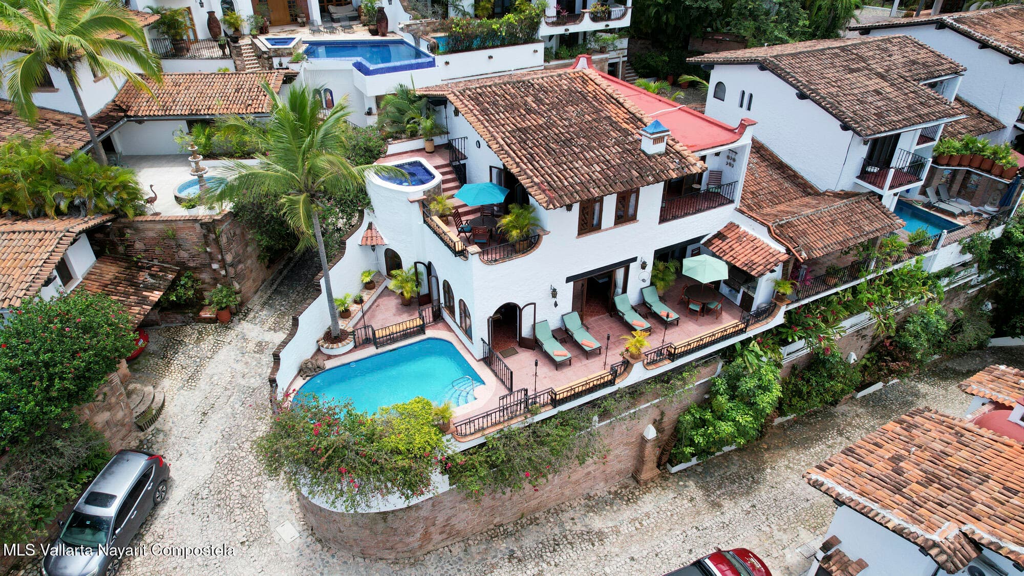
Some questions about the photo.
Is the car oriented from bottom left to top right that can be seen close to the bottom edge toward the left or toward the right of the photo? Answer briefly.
left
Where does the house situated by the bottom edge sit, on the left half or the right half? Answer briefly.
right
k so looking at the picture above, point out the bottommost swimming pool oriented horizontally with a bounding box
[285,329,501,442]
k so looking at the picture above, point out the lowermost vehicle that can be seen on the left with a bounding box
[33,459,162,576]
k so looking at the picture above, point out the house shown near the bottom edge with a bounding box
[802,404,1024,576]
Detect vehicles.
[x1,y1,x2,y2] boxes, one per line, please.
[671,544,770,576]
[123,316,154,345]
[33,459,162,576]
